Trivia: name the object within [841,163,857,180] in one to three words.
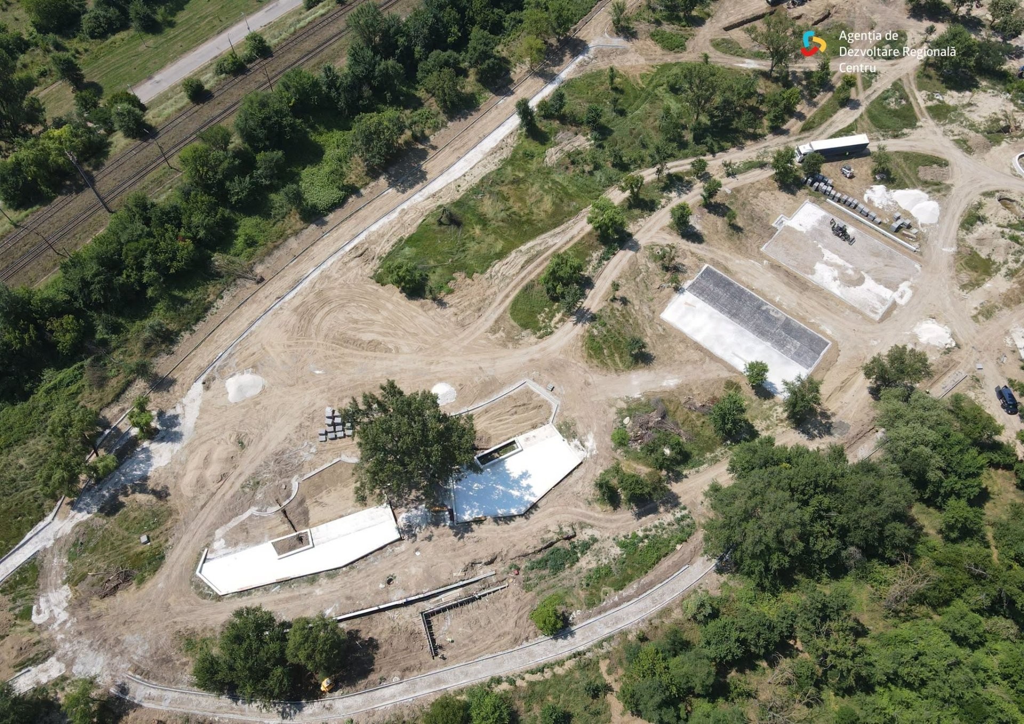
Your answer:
work vehicle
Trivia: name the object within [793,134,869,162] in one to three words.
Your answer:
truck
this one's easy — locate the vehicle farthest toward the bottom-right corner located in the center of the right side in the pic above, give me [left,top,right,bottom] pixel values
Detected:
[997,380,1019,413]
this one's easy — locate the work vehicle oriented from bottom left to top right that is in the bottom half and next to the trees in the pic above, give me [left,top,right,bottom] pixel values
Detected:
[315,672,341,694]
